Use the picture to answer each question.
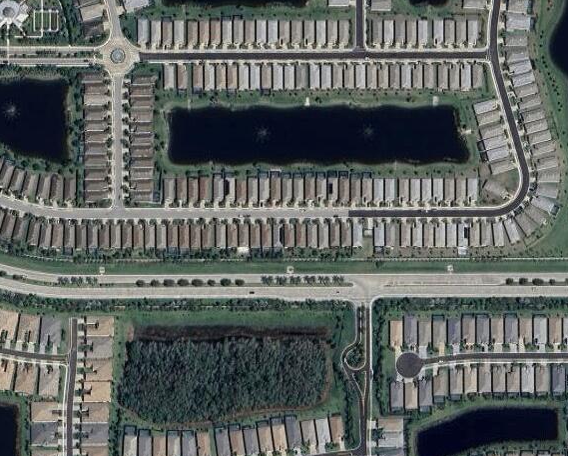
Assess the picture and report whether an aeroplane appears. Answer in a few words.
No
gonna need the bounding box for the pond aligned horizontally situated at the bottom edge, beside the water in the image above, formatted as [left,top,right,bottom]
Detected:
[417,407,558,456]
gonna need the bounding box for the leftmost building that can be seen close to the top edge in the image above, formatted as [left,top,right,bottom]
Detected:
[0,1,26,29]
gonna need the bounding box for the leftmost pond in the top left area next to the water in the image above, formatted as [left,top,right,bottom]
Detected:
[0,80,69,160]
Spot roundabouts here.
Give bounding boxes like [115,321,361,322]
[94,34,142,79]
